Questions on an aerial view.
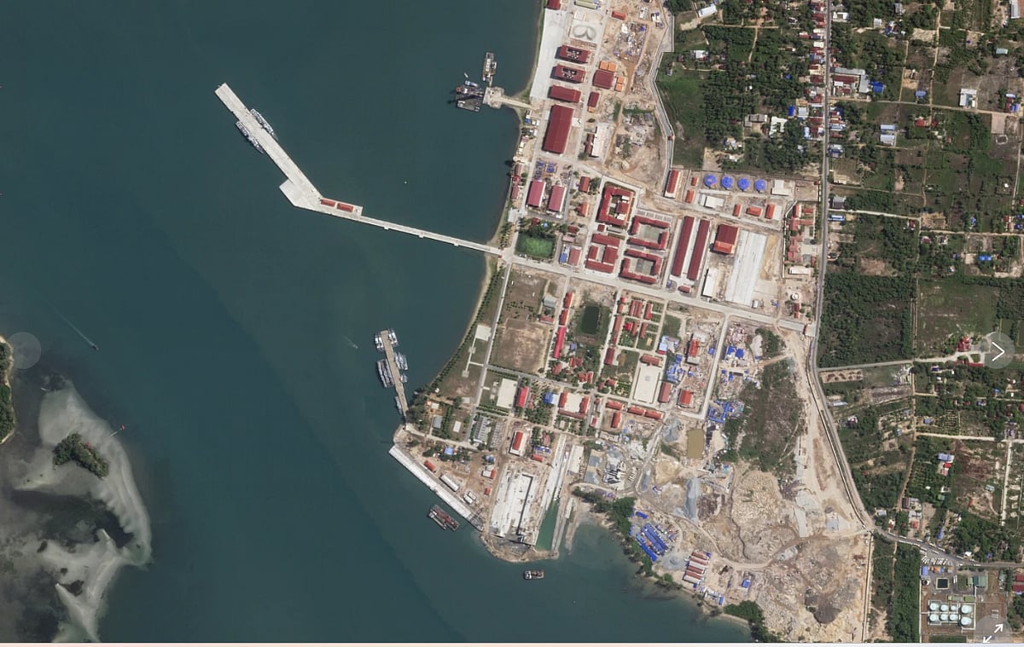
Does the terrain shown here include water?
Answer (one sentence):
Yes, the picture does contain water.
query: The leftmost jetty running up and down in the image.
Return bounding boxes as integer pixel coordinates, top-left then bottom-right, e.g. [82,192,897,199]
[381,330,409,424]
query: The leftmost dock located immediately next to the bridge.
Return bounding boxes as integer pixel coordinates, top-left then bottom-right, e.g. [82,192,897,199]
[215,82,363,220]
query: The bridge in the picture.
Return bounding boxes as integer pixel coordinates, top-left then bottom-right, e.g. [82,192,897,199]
[359,215,504,255]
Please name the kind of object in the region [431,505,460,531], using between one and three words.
ship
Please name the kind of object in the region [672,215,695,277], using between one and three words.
shed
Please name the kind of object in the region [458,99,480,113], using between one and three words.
ship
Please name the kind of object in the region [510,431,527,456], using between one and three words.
building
